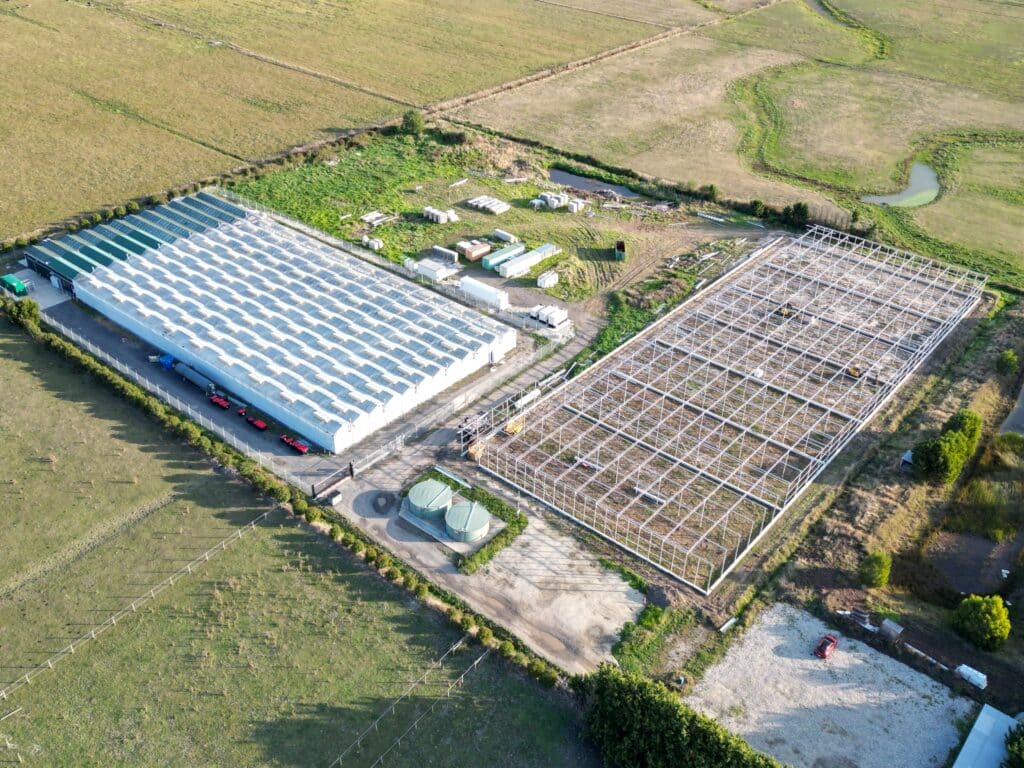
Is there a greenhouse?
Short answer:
Yes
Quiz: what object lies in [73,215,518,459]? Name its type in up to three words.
greenhouse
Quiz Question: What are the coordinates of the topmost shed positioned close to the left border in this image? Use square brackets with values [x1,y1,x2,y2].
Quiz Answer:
[25,192,252,298]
